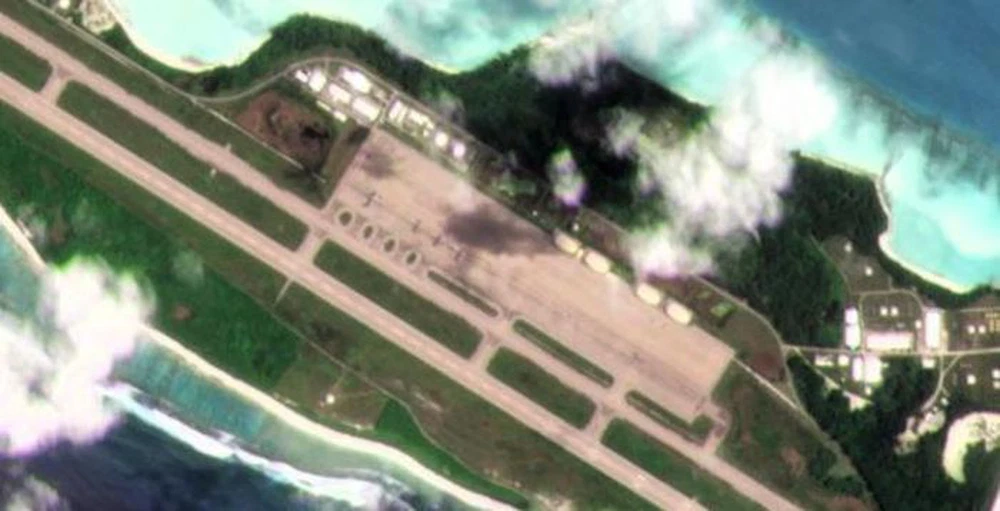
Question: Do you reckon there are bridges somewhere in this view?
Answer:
No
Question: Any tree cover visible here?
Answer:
Yes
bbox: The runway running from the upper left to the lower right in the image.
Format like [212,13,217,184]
[0,72,707,511]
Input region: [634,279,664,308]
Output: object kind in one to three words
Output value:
hangar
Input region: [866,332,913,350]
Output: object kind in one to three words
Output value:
building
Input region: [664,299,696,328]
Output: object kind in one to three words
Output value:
hangar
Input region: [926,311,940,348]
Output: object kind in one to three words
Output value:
building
